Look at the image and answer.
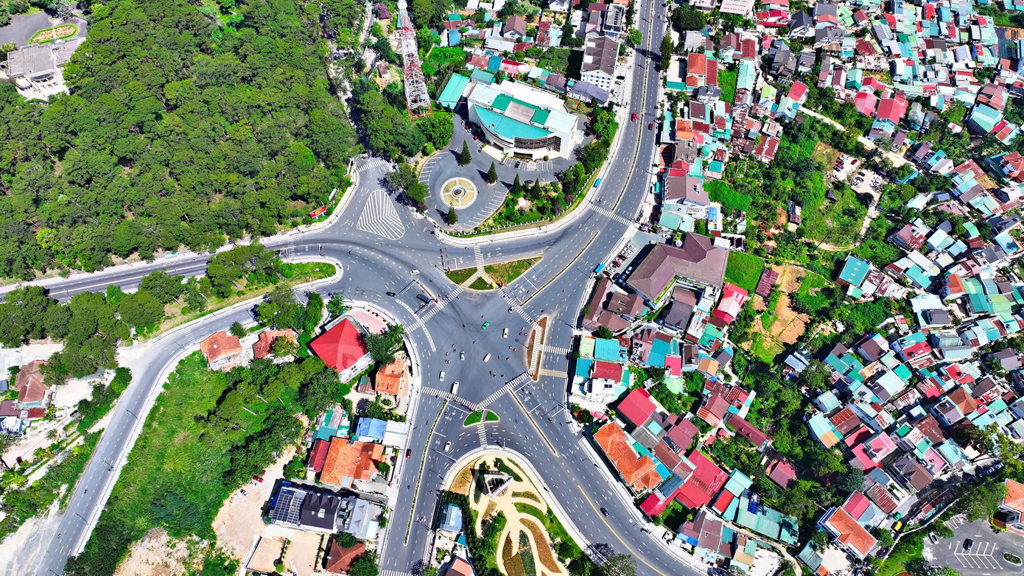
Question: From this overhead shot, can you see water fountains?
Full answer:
Yes, I can see a water fountain in this picture.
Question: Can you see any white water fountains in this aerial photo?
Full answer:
Yes, the photo shows a white water fountain.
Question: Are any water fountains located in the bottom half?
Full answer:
No, no water fountain can be made out in the bottom half.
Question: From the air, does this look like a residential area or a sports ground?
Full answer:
This looks like a residential area.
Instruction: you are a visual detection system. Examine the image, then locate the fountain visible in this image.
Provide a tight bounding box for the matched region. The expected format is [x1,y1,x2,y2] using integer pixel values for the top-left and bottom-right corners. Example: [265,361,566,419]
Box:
[440,177,477,209]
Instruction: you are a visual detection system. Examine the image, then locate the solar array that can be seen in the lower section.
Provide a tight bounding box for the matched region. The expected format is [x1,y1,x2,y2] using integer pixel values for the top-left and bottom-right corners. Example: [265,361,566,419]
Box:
[274,490,307,524]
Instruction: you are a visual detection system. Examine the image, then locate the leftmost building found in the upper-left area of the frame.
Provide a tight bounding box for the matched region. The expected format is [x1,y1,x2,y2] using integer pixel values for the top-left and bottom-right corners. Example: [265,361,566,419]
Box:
[7,36,91,86]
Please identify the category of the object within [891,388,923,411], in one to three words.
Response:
house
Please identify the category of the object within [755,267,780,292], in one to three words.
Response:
shed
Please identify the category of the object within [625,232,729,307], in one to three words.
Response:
building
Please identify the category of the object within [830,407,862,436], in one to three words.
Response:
house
